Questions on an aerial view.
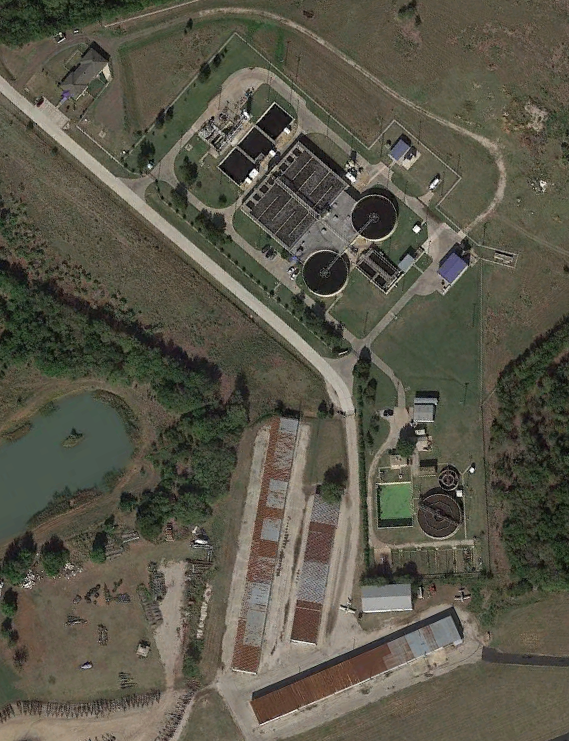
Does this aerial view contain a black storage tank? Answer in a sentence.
Yes, the frame does contain a black storage tank.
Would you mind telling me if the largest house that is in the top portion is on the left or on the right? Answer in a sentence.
You can find the largest house that is in the top portion on the left side of the picture.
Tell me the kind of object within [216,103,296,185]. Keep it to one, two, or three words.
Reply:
storage tank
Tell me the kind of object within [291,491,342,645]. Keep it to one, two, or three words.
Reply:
hangar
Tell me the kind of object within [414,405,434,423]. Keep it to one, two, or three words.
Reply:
building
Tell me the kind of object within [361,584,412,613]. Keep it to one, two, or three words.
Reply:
shed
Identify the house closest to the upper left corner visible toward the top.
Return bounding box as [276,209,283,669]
[60,46,109,100]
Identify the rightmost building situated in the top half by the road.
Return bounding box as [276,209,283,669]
[437,252,469,287]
